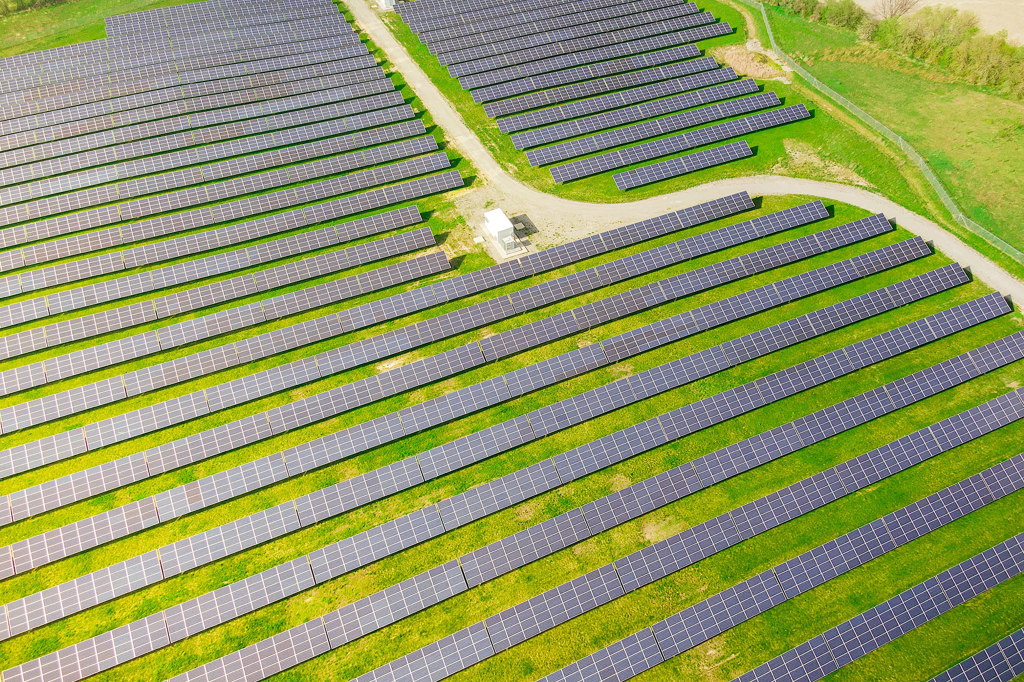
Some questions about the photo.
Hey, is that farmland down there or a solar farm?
solar farm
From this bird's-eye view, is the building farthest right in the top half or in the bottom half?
top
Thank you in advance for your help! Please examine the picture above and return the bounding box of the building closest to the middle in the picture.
[486,209,516,242]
